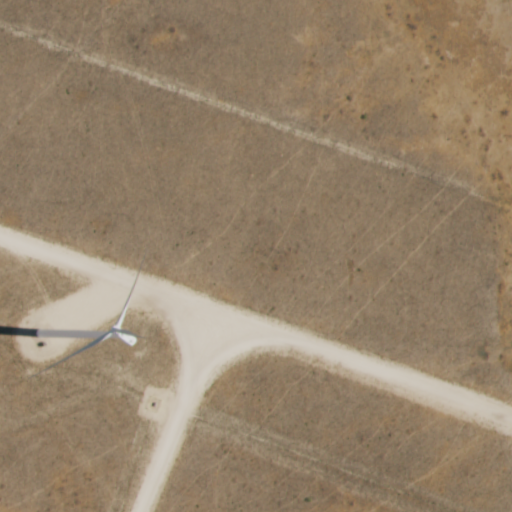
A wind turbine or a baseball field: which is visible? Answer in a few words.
wind turbine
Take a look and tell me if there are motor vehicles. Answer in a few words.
No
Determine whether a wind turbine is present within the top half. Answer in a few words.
No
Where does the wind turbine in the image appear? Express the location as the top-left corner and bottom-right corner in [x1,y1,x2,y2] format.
[33,254,156,381]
